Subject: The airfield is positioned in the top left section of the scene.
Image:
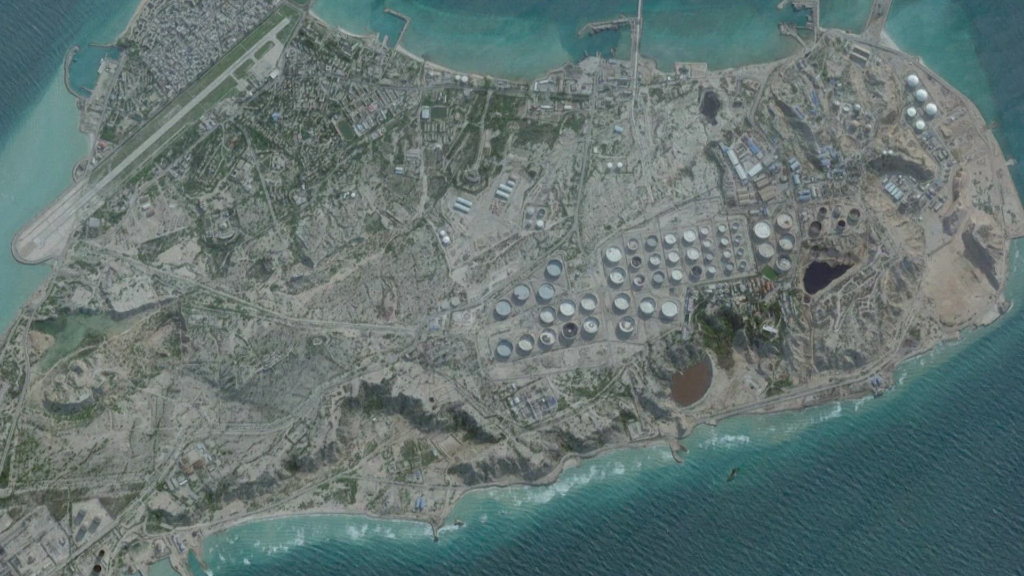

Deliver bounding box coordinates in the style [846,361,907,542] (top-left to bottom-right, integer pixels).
[14,4,299,262]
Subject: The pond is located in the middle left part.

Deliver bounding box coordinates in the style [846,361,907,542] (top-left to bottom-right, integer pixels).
[32,314,131,368]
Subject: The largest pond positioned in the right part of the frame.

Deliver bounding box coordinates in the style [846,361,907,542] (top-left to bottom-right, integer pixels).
[670,354,713,407]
